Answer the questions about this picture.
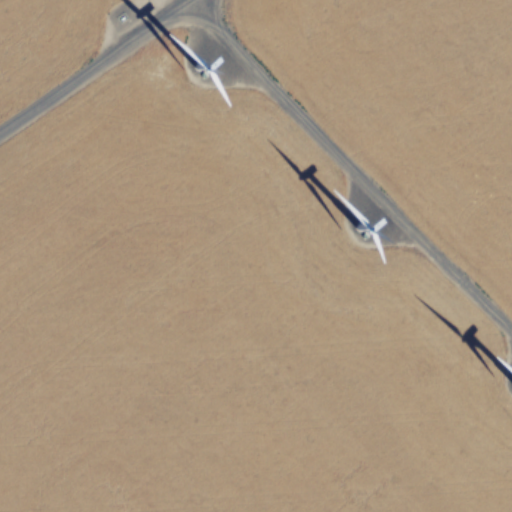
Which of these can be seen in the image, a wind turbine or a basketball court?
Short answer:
wind turbine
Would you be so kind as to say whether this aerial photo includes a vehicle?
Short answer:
No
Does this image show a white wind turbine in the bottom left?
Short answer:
No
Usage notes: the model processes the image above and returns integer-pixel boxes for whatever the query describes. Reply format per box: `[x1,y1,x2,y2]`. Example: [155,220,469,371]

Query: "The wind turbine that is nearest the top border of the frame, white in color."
[177,30,228,103]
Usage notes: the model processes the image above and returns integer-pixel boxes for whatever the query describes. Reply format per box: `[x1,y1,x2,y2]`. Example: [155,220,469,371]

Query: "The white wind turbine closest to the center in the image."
[340,192,390,264]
